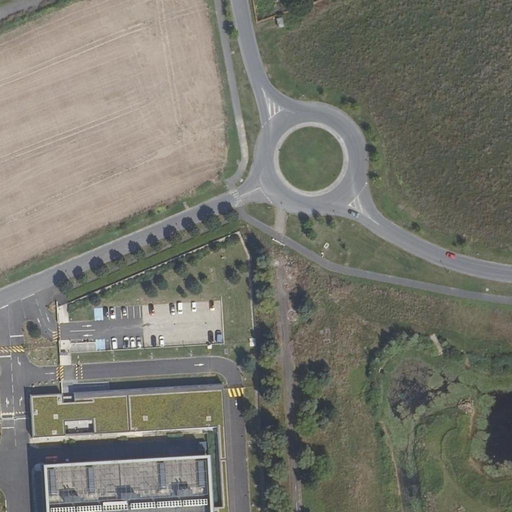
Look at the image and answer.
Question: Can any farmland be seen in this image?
Yes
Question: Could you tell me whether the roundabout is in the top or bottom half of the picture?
top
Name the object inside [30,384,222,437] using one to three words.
building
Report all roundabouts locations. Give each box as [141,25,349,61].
[251,94,368,216]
